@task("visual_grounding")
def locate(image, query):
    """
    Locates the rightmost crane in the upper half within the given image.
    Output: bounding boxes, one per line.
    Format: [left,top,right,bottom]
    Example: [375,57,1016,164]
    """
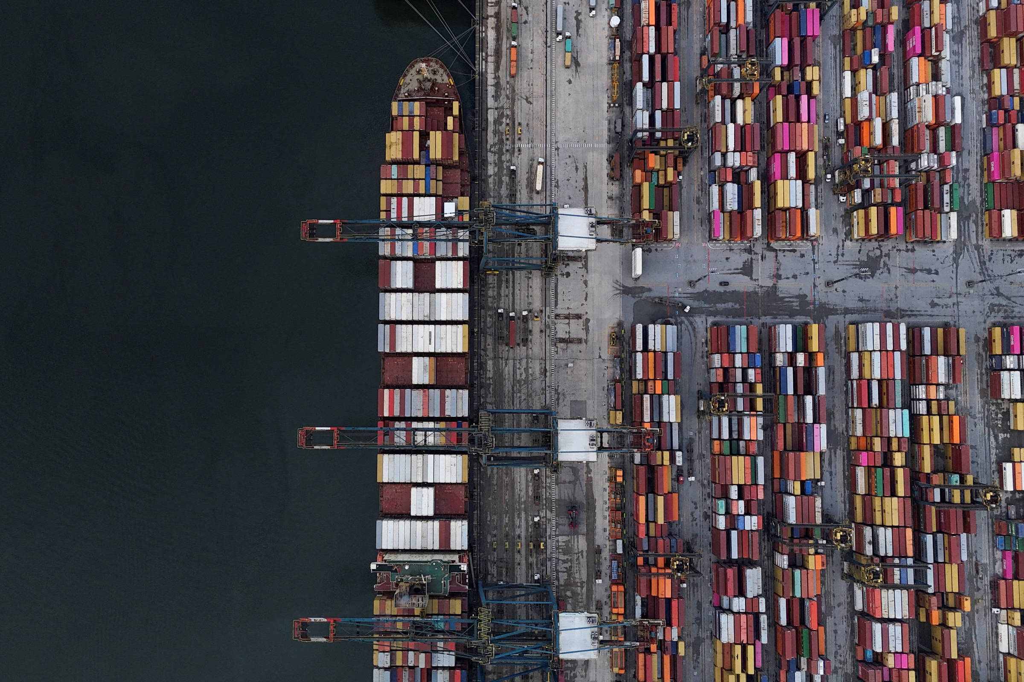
[830,153,920,195]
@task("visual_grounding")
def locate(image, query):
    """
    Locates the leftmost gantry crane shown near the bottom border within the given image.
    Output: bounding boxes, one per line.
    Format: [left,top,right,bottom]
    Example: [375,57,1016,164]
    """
[291,563,663,666]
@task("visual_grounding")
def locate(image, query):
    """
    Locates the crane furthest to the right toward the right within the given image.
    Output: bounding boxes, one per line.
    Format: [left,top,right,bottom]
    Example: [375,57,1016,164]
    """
[904,475,1000,511]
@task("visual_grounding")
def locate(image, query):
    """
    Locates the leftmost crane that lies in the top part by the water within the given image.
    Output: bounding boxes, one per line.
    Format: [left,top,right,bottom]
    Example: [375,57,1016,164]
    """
[297,201,659,283]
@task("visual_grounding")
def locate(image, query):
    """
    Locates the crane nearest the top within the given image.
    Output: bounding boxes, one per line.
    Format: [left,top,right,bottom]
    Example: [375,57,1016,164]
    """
[756,0,840,31]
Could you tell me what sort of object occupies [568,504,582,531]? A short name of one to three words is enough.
work vehicle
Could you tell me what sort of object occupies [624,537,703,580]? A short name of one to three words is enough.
crane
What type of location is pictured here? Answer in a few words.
port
